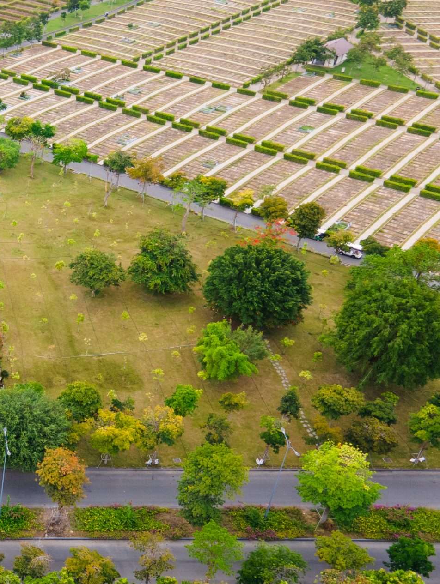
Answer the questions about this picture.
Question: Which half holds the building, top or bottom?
top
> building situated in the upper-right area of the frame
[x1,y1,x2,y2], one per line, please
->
[315,40,363,73]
